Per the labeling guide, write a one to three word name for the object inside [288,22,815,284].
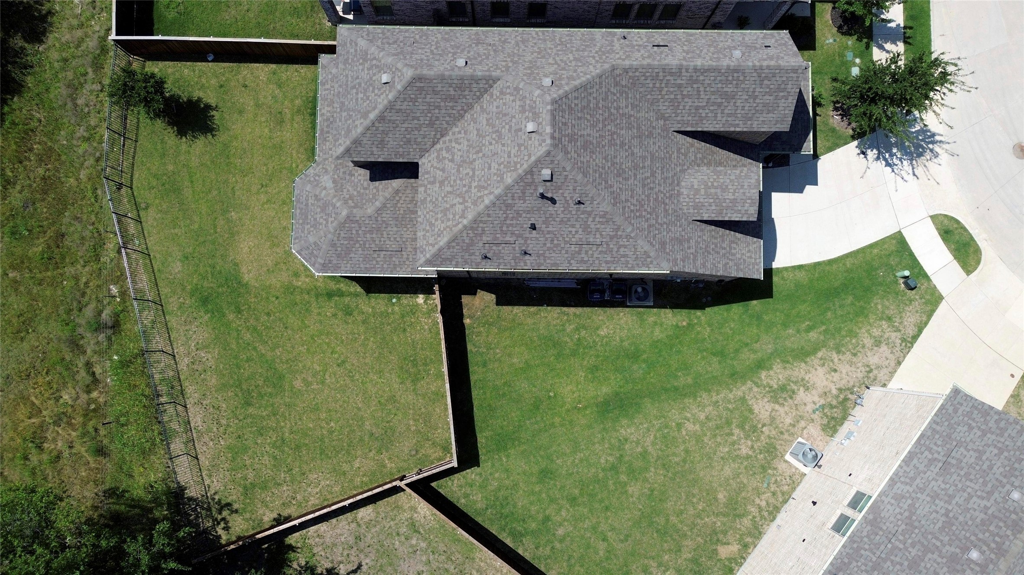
house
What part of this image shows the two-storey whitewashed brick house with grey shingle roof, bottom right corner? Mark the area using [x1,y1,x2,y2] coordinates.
[734,381,1024,575]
